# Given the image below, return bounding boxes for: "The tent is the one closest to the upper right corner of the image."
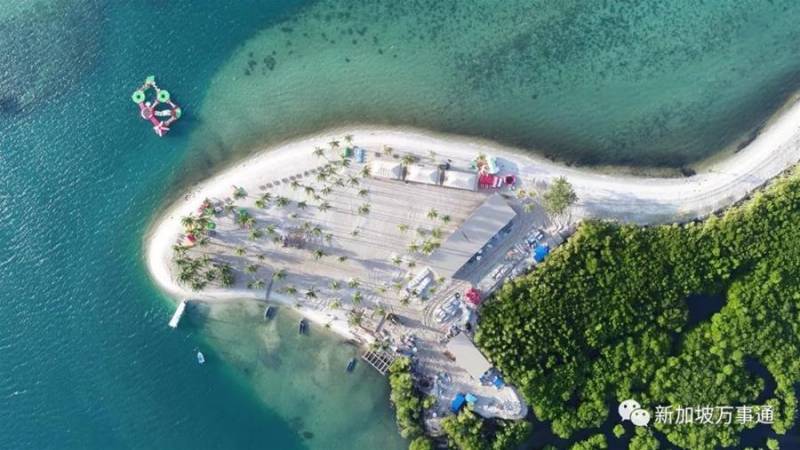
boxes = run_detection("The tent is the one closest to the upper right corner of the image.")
[442,169,477,191]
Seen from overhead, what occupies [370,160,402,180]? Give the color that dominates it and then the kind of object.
white tent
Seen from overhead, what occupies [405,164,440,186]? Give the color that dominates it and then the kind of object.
white tent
